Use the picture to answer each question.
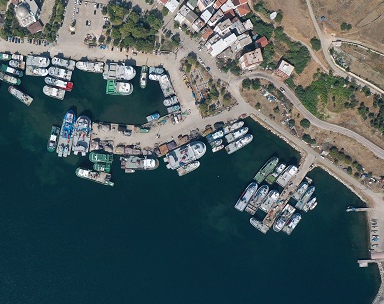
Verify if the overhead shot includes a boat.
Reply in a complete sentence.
Yes, there's a boat down there.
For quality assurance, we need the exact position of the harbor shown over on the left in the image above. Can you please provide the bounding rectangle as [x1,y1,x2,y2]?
[0,41,253,158]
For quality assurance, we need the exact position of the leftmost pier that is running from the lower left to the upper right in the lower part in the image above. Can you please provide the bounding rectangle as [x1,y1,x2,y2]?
[261,164,312,230]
